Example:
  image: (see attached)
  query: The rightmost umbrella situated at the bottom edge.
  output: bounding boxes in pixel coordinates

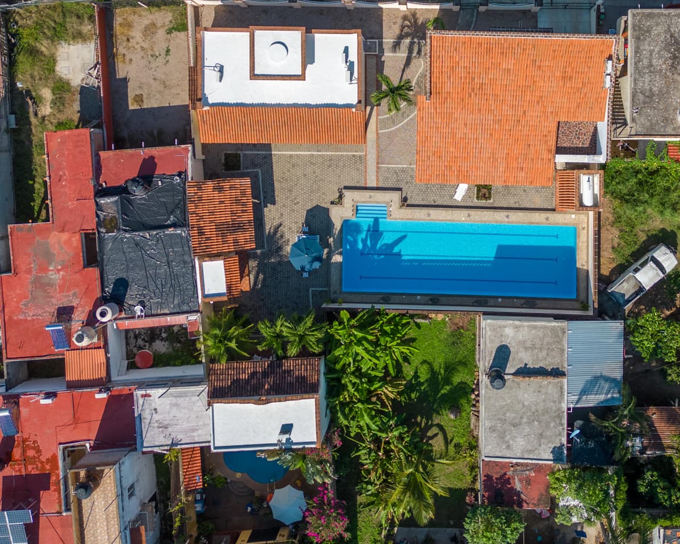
[269,481,308,520]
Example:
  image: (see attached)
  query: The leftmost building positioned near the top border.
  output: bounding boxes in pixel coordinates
[196,26,378,146]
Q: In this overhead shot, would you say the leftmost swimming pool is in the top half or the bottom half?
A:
bottom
